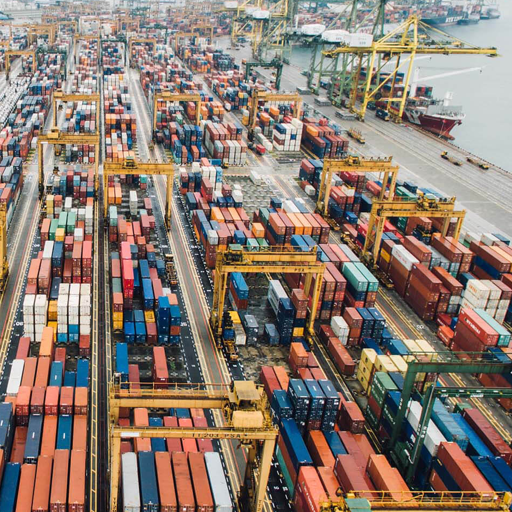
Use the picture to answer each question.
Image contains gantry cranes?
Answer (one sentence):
Yes, there is a gantry crane in the image.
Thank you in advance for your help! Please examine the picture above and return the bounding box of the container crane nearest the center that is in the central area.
[206,240,325,349]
